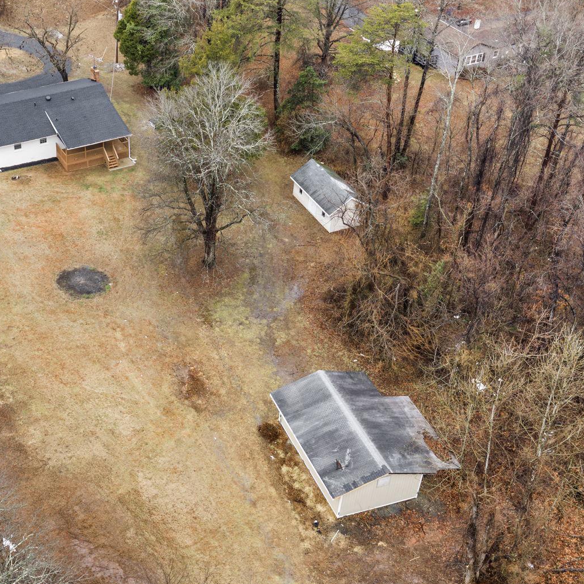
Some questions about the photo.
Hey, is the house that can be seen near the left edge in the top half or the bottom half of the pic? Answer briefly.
top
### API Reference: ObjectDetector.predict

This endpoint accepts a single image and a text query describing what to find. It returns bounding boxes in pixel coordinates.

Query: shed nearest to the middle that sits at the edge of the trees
[290,160,370,232]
